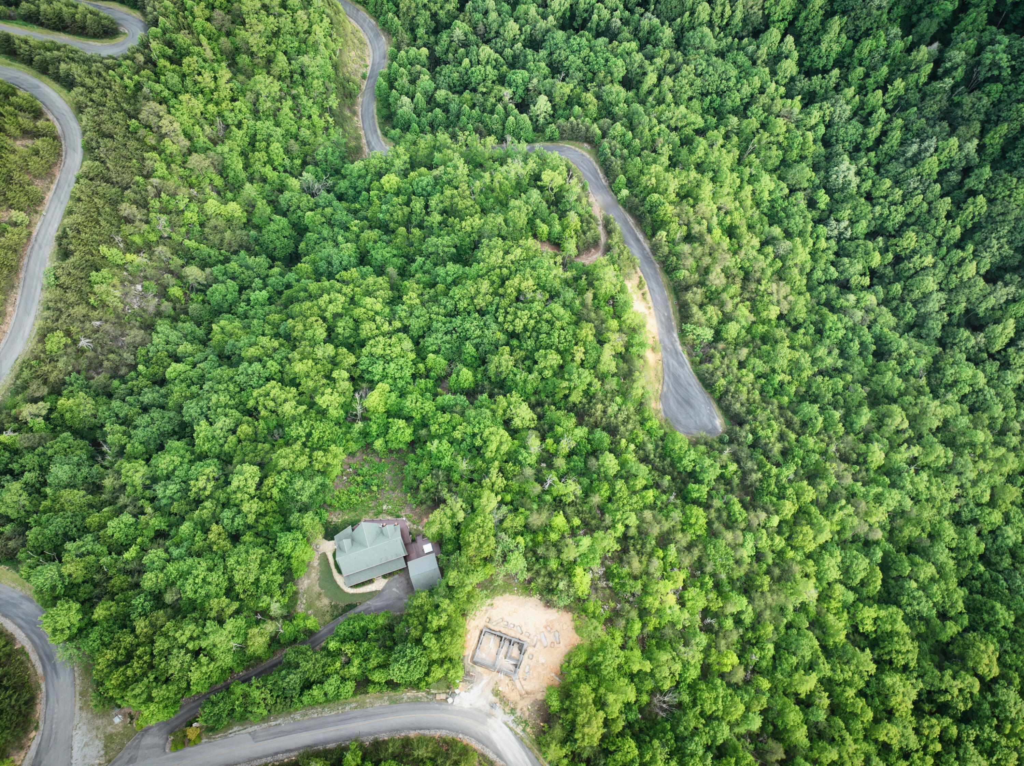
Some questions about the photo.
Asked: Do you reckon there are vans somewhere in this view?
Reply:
No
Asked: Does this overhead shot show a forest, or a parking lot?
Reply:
forest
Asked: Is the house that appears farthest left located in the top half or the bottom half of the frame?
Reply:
bottom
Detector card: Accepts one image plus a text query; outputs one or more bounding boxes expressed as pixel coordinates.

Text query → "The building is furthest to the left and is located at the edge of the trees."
[334,522,408,588]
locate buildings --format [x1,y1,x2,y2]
[407,553,441,592]
[334,522,408,588]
